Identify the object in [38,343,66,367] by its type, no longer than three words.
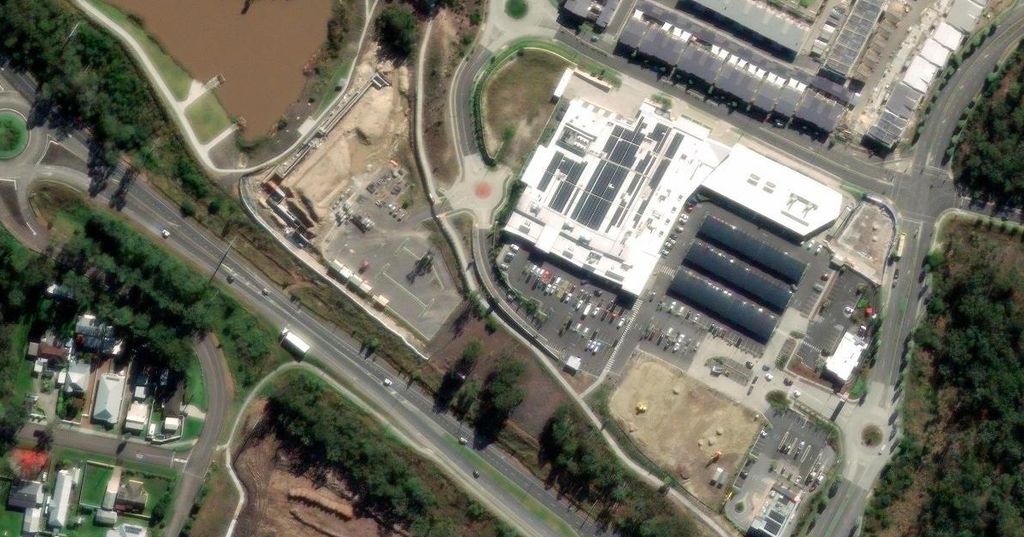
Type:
house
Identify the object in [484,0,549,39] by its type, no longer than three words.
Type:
roundabout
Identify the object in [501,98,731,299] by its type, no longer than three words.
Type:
building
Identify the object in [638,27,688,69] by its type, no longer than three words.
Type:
house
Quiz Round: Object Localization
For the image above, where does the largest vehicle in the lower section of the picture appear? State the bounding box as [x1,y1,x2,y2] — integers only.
[283,333,311,355]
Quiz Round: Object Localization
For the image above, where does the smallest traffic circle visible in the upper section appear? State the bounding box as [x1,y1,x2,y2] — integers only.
[463,170,503,209]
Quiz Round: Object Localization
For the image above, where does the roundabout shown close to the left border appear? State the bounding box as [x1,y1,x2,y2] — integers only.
[0,90,45,179]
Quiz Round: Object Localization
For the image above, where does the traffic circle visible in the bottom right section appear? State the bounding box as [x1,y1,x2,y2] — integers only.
[844,408,900,464]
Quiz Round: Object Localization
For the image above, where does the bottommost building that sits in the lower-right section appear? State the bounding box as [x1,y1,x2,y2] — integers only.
[743,487,801,537]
